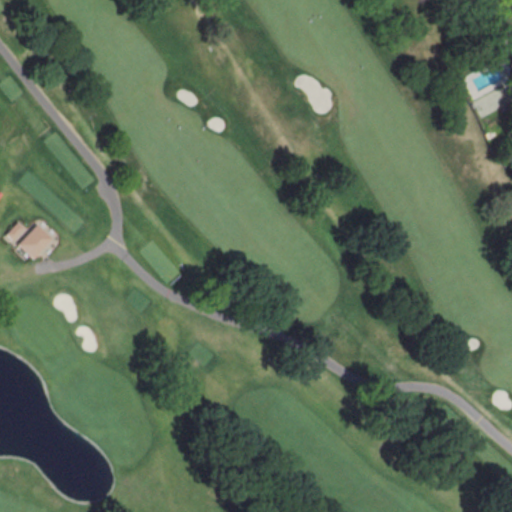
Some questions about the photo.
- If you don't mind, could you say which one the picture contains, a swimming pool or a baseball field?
swimming pool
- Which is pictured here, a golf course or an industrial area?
golf course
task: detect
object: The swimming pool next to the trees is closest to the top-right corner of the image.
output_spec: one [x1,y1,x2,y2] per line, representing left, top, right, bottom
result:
[465,64,502,100]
